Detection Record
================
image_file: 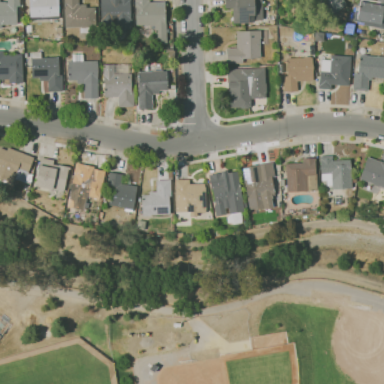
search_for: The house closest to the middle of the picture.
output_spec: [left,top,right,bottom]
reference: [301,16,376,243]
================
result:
[175,179,206,214]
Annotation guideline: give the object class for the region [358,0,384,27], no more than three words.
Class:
house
